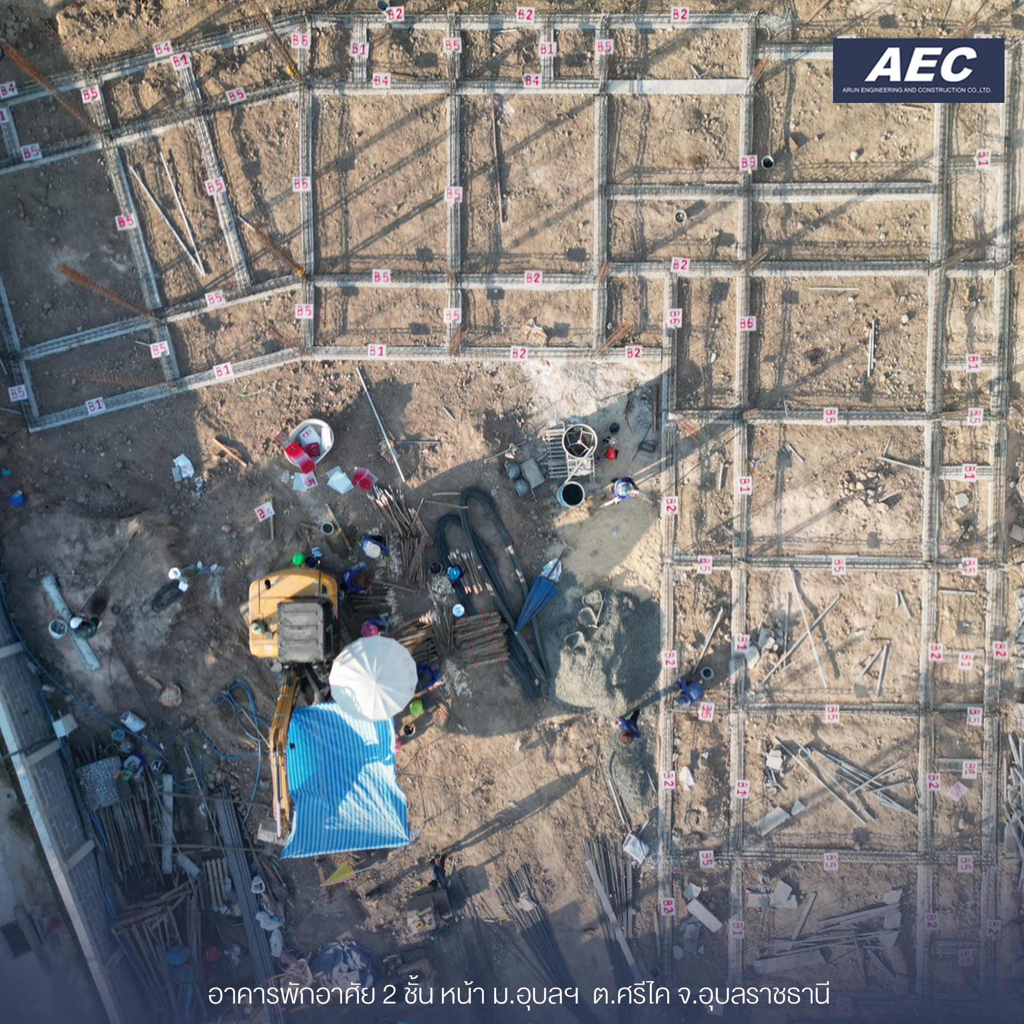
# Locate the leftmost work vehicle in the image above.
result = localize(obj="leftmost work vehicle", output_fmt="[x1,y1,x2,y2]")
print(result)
[250,566,345,854]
